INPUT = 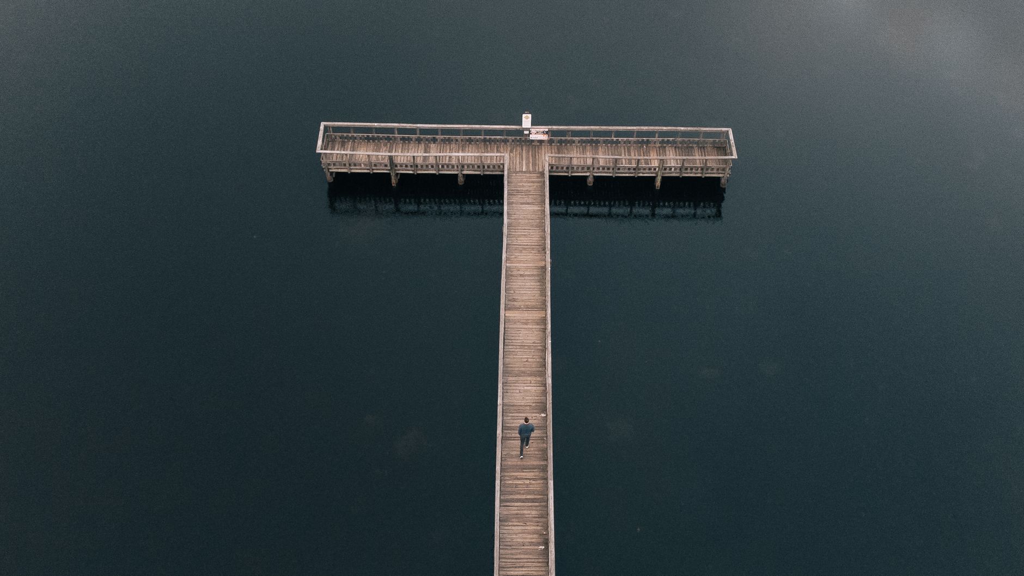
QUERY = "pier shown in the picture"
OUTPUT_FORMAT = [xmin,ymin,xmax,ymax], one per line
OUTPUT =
[316,122,737,576]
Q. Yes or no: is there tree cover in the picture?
No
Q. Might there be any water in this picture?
Yes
